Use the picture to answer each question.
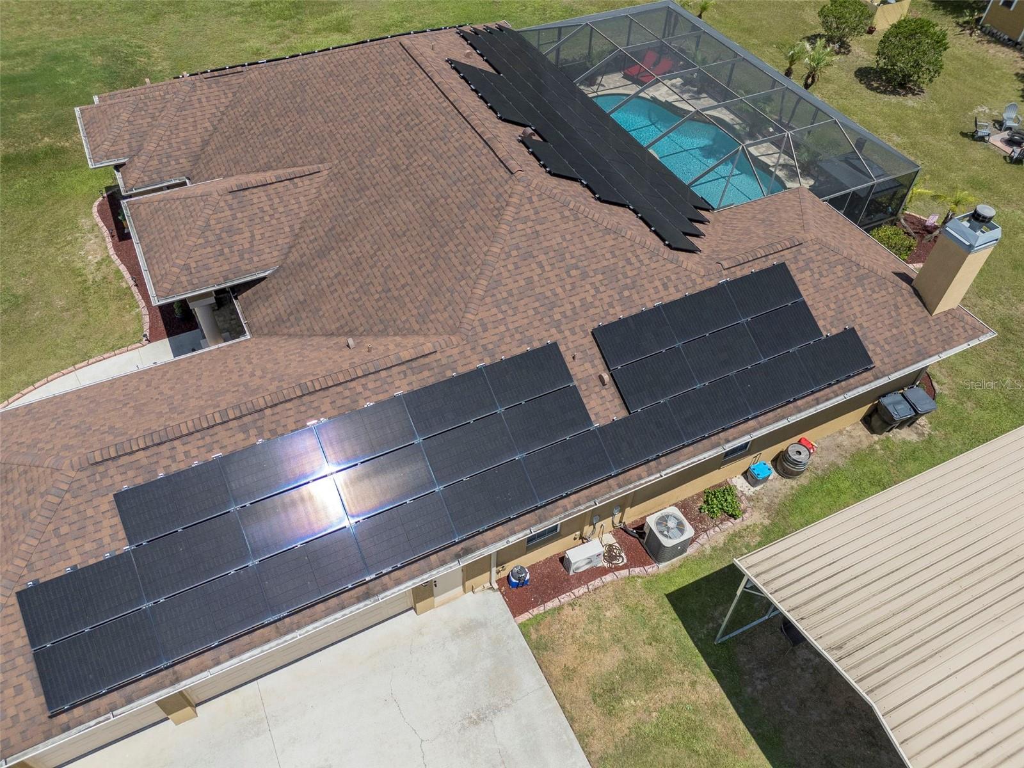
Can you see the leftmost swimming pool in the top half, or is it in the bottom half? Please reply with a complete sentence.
It is in the top half that the leftmost swimming pool appears.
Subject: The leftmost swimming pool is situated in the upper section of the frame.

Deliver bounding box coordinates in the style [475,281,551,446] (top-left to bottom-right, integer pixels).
[693,157,780,213]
